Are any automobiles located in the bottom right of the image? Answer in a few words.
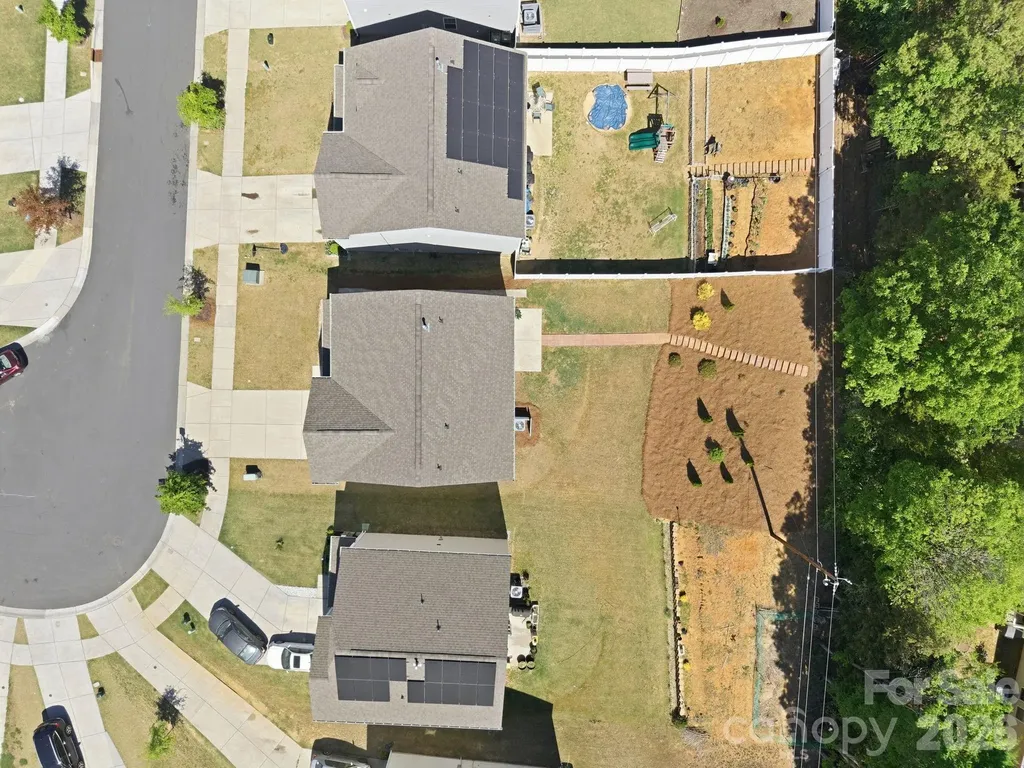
No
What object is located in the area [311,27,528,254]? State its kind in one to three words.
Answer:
house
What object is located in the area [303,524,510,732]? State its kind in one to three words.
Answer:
house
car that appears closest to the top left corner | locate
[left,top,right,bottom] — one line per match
[0,349,30,388]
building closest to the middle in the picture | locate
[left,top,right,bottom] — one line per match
[301,290,516,487]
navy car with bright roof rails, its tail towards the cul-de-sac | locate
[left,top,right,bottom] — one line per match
[28,720,84,768]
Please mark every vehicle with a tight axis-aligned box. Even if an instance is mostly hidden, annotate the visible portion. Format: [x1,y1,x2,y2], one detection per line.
[207,599,269,667]
[267,639,309,675]
[312,750,385,768]
[0,349,30,388]
[28,720,84,768]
